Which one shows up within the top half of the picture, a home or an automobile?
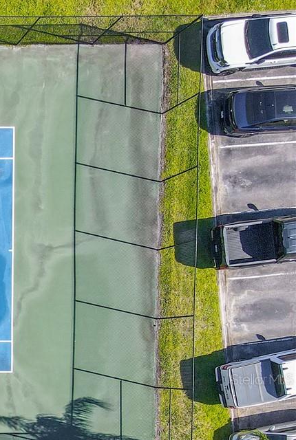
automobile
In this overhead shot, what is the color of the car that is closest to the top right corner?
white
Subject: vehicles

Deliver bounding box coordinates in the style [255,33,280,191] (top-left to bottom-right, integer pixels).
[205,209,296,265]
[212,350,296,410]
[221,84,296,138]
[226,420,296,440]
[205,11,296,71]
